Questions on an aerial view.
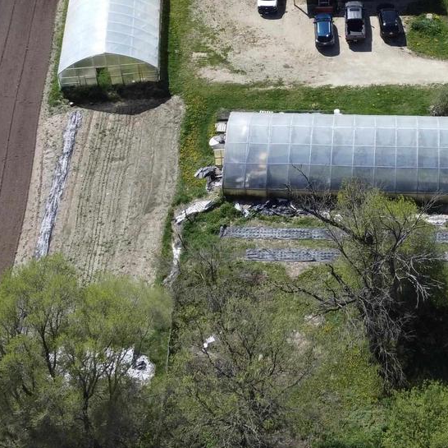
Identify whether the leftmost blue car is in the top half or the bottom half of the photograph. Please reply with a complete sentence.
The leftmost blue car is in the top half of the image.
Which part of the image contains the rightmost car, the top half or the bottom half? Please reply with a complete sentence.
The rightmost car is in the top half of the image.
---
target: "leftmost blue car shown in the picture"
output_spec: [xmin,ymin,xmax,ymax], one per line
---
[314,8,338,37]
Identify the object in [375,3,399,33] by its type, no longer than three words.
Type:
car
